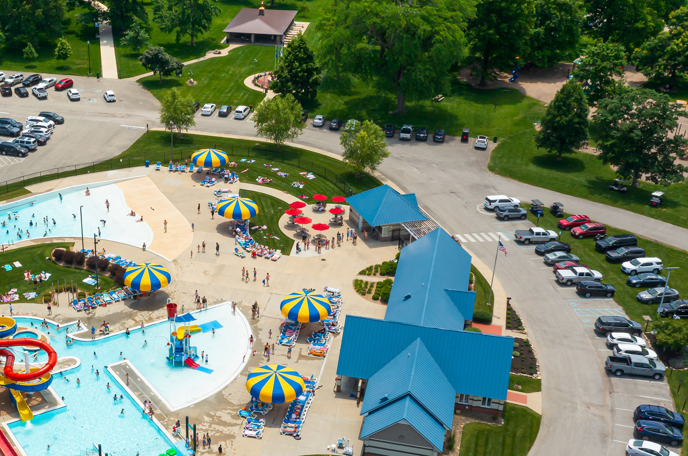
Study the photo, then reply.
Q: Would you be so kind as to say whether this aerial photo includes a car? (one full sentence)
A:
Yes, a car appears in the view.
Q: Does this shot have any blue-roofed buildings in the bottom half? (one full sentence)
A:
Yes, a blue-roofed building appears in the bottom half.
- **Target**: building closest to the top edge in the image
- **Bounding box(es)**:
[220,0,301,49]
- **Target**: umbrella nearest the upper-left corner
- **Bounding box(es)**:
[191,149,229,176]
